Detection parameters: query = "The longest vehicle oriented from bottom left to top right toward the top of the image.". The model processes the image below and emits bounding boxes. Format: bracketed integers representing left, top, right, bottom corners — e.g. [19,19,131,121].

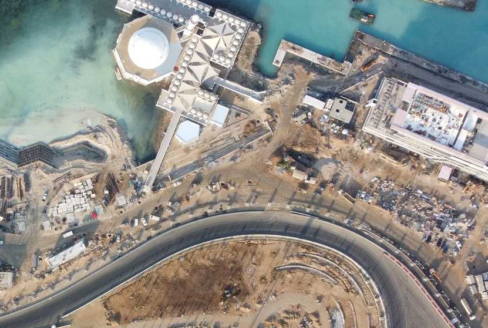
[359,57,378,74]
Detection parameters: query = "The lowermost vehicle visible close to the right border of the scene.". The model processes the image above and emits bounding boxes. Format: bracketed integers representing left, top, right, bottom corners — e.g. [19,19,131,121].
[459,296,478,324]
